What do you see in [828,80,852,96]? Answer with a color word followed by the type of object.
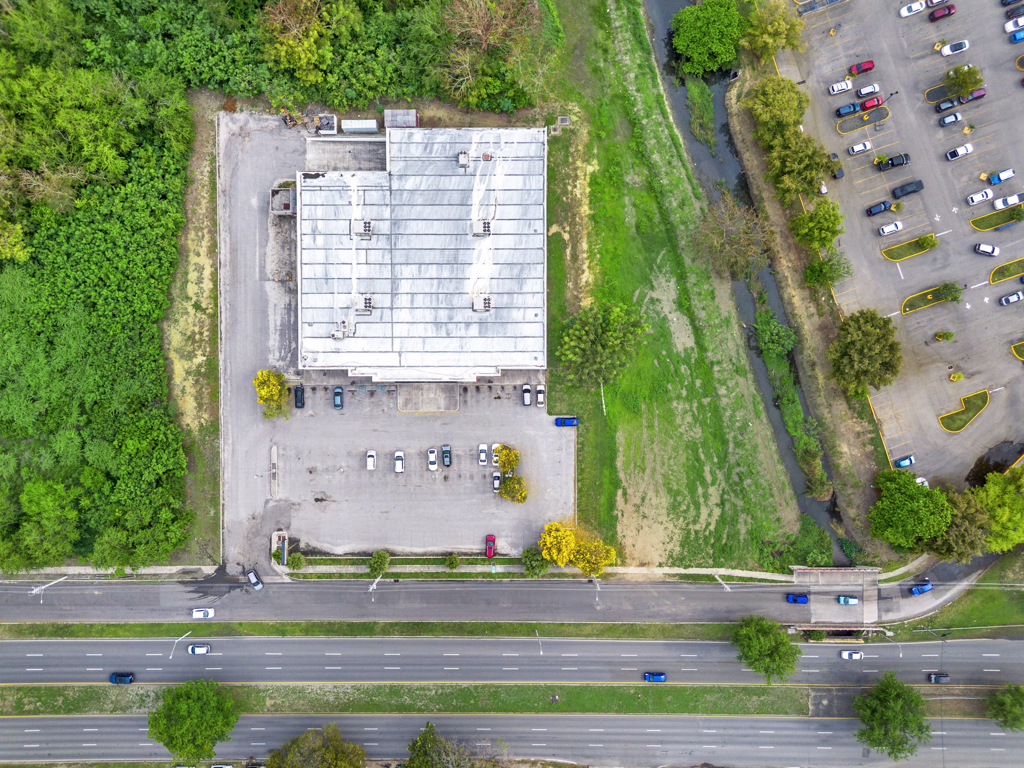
white car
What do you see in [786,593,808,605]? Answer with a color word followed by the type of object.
blue vehicle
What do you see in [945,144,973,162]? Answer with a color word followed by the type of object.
white vehicle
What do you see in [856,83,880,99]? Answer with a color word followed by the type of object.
white car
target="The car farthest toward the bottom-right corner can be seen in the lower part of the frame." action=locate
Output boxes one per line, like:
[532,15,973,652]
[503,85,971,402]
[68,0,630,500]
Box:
[928,672,951,685]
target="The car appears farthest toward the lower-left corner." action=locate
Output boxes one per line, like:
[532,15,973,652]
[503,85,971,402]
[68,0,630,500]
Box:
[110,672,136,685]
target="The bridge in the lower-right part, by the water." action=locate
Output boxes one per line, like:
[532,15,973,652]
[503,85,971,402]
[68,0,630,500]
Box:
[792,564,884,638]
